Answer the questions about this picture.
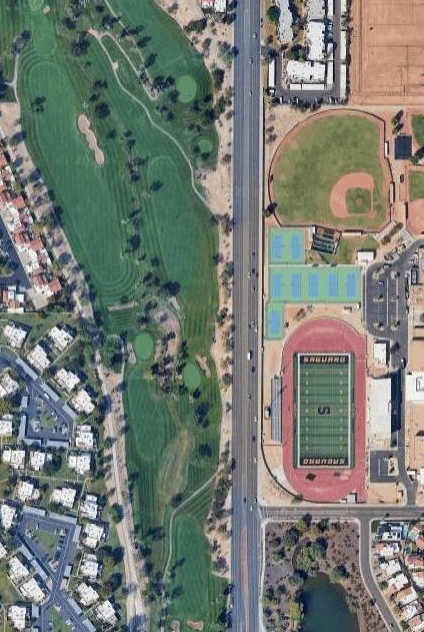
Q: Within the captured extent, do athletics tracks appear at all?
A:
Yes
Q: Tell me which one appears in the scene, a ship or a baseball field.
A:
baseball field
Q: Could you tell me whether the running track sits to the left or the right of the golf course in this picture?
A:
to the right of it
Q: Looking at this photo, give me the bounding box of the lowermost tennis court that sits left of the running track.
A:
[267,303,284,340]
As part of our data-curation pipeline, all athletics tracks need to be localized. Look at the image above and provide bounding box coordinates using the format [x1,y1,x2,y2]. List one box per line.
[283,317,366,502]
